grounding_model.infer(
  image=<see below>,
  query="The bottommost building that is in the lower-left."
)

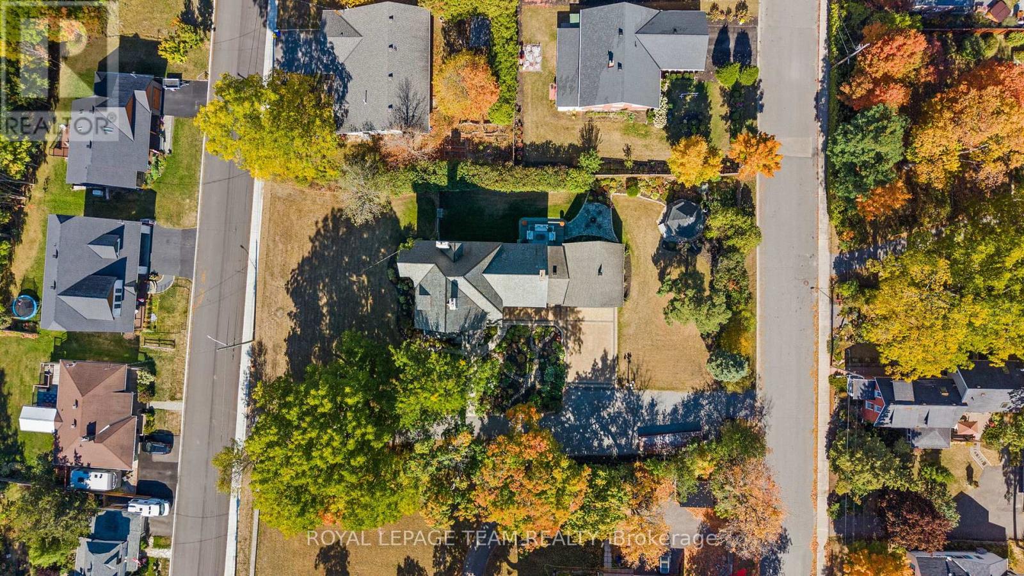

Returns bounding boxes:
[75,507,147,576]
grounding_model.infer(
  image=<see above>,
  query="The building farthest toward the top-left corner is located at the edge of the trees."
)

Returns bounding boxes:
[66,72,162,189]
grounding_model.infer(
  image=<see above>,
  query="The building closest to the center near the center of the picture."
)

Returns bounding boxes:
[397,240,624,342]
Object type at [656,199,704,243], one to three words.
gazebo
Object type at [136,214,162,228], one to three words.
car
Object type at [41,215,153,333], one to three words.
house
